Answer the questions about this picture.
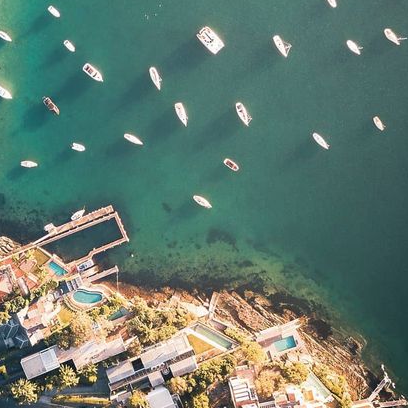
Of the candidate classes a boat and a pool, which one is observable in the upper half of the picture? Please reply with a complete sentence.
You can see a boat in the upper half of the picture.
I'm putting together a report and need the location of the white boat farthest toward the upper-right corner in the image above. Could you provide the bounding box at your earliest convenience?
[384,28,403,45]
